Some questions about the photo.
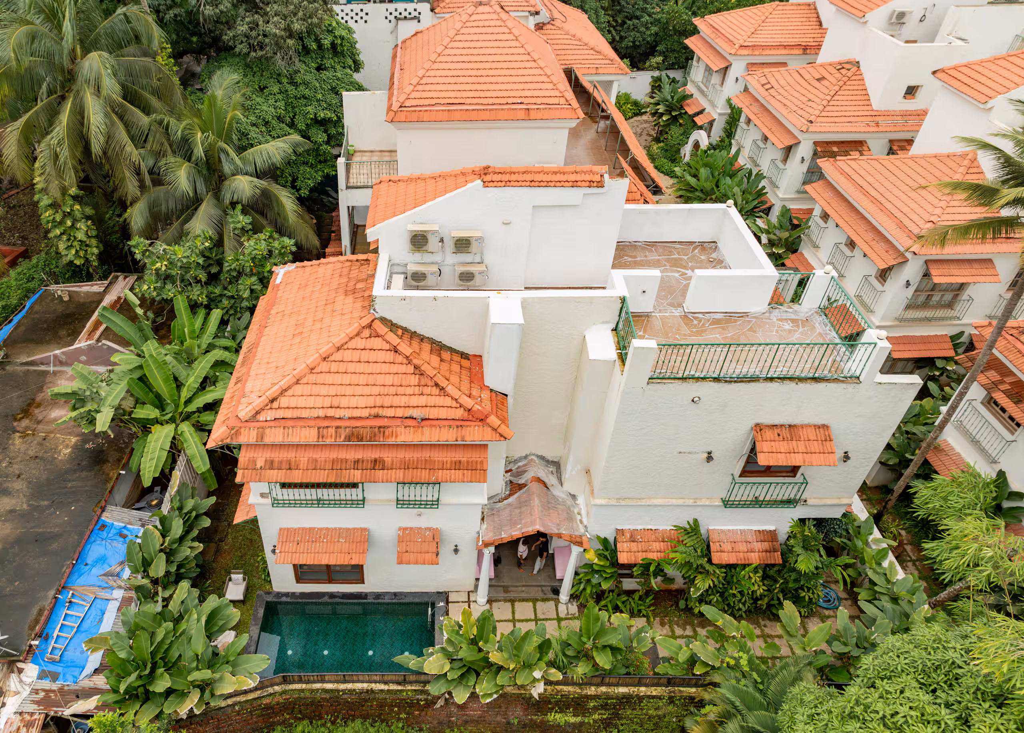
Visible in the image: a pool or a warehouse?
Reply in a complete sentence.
It is a pool that can be seen here.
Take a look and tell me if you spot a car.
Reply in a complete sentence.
No, I can see no car in this picture.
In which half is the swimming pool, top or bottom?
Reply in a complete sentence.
Seen from above, the swimming pool lies in the bottom half of the view.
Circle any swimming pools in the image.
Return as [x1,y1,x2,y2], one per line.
[235,591,448,684]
